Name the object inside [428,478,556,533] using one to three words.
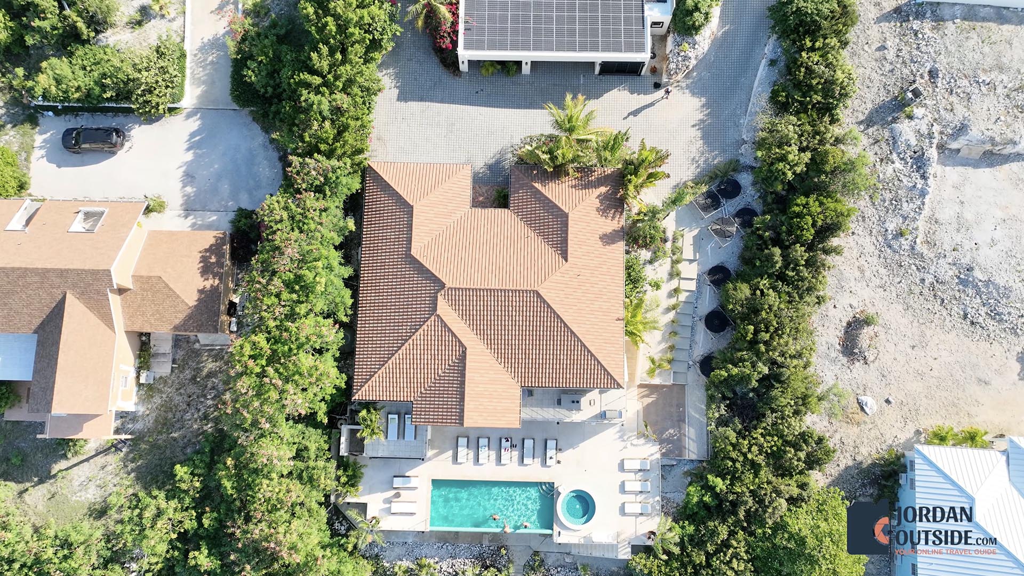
swimming pool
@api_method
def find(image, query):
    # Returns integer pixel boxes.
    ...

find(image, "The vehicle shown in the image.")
[56,123,122,155]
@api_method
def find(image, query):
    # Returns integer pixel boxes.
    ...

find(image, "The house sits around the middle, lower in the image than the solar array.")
[351,160,626,457]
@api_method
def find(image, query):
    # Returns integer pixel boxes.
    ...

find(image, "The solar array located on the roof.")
[464,0,647,53]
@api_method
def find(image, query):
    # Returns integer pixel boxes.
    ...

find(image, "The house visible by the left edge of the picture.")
[0,197,235,415]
